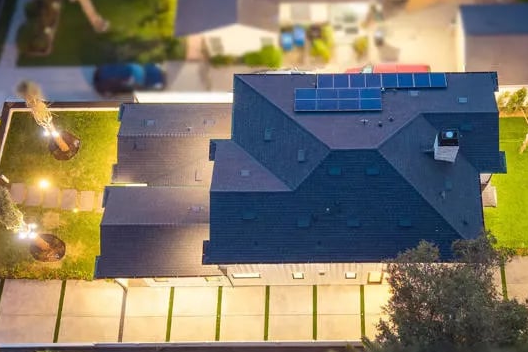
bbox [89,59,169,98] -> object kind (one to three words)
car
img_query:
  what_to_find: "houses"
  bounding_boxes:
[94,71,505,290]
[175,0,447,58]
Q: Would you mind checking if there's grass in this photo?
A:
Yes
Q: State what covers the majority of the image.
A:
buildings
